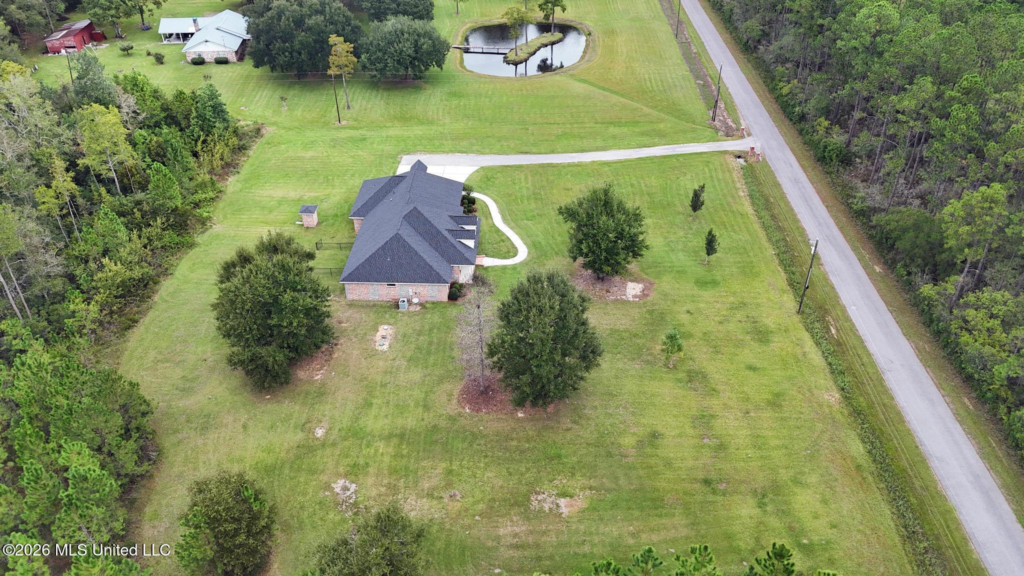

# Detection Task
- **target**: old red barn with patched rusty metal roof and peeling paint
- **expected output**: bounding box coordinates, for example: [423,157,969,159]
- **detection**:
[41,22,89,53]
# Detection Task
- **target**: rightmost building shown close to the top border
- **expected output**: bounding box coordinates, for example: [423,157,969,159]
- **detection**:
[153,10,246,63]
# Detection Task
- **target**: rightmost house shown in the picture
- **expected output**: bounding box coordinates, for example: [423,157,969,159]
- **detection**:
[339,158,485,299]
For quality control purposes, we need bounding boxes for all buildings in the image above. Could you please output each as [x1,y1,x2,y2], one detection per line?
[153,10,246,63]
[41,22,89,53]
[339,158,485,299]
[298,205,319,227]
